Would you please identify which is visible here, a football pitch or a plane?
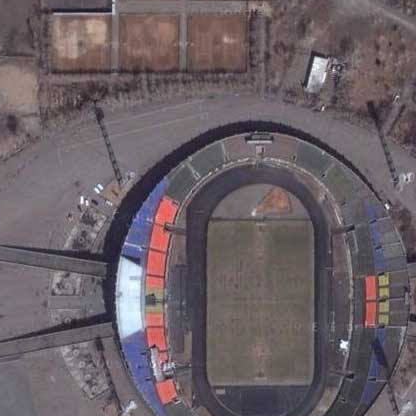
football pitch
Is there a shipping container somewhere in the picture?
No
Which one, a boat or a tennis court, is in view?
tennis court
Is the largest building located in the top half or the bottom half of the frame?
top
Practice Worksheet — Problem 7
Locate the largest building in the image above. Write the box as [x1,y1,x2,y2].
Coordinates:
[305,55,328,91]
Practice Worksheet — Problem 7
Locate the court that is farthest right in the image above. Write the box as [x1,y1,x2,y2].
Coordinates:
[188,14,248,72]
